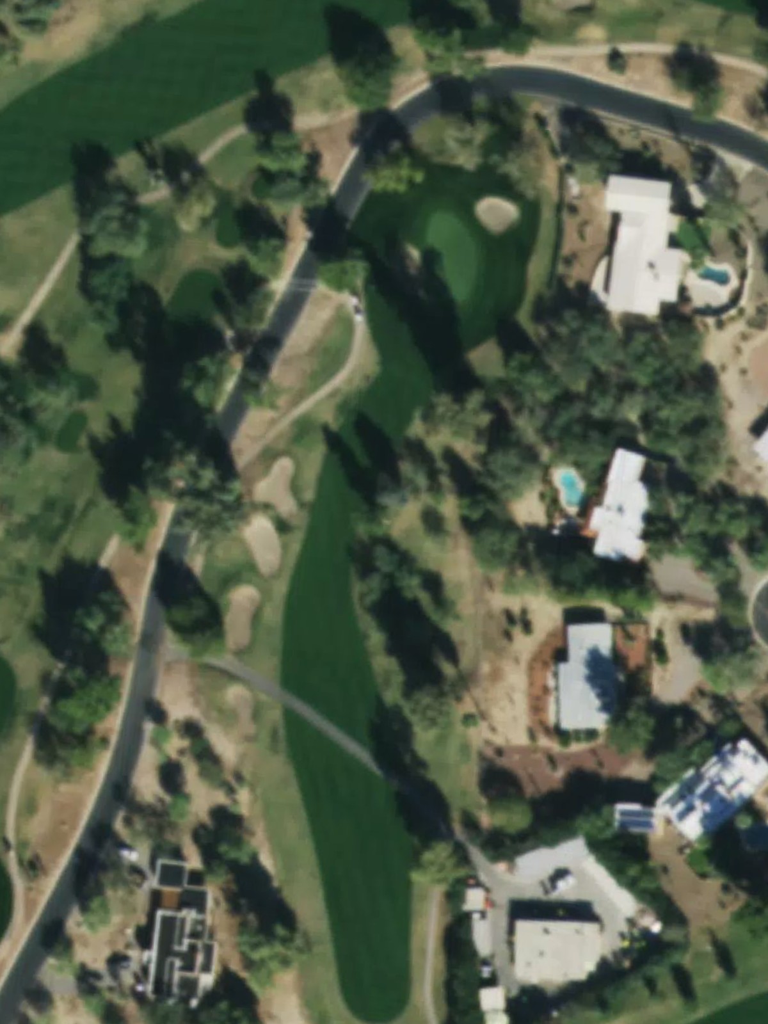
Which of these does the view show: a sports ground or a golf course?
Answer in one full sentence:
The area seen from above is a golf course.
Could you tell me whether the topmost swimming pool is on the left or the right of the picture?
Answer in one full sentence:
It is on the right.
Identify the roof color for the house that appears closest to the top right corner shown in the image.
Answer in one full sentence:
The roof of the house that appears closest to the top right corner is white.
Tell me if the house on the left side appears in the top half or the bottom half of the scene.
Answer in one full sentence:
It is in the bottom half that the house on the left side appears.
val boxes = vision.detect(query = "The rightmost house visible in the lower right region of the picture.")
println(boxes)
[656,738,768,843]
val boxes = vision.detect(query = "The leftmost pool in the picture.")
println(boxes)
[552,466,586,514]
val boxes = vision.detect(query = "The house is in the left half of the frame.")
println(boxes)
[142,860,218,1007]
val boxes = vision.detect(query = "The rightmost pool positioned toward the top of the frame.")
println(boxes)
[685,257,739,308]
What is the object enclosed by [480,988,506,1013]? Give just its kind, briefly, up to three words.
shed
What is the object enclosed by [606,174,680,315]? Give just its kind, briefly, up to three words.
house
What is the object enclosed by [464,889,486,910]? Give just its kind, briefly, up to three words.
shed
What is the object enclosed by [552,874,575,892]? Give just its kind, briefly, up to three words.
vehicle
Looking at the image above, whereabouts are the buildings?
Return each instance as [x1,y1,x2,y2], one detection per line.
[485,1013,509,1024]
[656,738,768,843]
[580,449,649,561]
[515,923,602,984]
[548,624,647,731]
[606,174,680,315]
[755,431,768,460]
[480,988,506,1013]
[142,860,218,1007]
[464,889,486,910]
